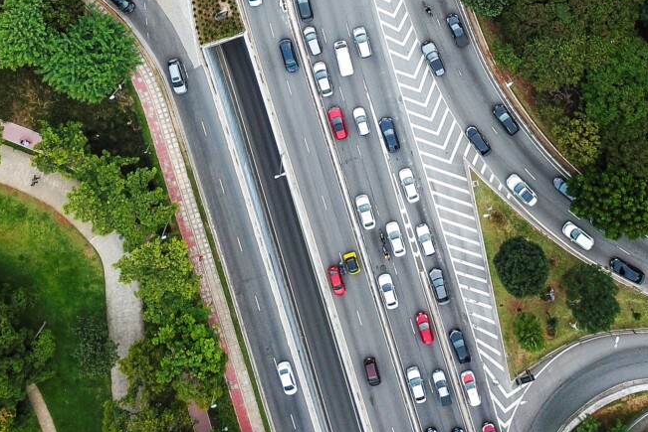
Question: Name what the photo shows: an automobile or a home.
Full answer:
Of the two, only an automobile appears.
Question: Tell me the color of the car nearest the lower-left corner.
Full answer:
In this view, the car nearest the lower-left corner is white.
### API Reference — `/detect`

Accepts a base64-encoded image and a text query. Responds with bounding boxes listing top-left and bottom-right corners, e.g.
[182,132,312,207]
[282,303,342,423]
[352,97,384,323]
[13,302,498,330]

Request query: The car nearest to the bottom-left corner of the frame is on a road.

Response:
[277,360,298,395]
